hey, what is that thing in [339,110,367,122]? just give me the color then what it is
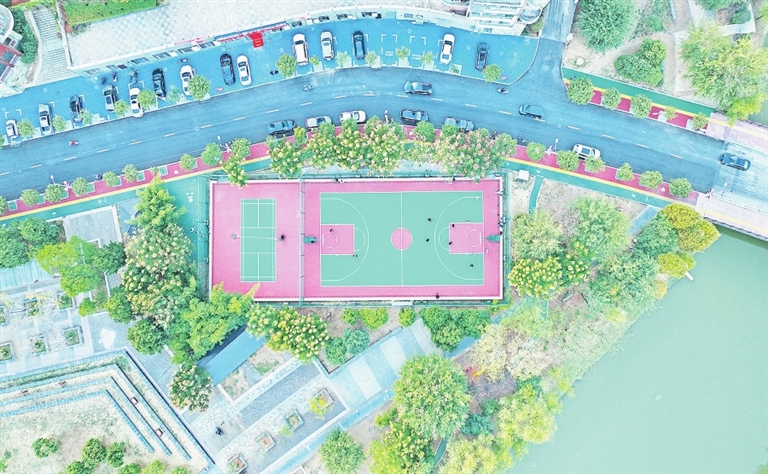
white vehicle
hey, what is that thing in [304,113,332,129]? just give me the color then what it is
white car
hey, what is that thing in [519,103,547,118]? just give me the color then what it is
blue car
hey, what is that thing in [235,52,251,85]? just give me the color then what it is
white car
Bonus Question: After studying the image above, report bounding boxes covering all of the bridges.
[685,112,768,240]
